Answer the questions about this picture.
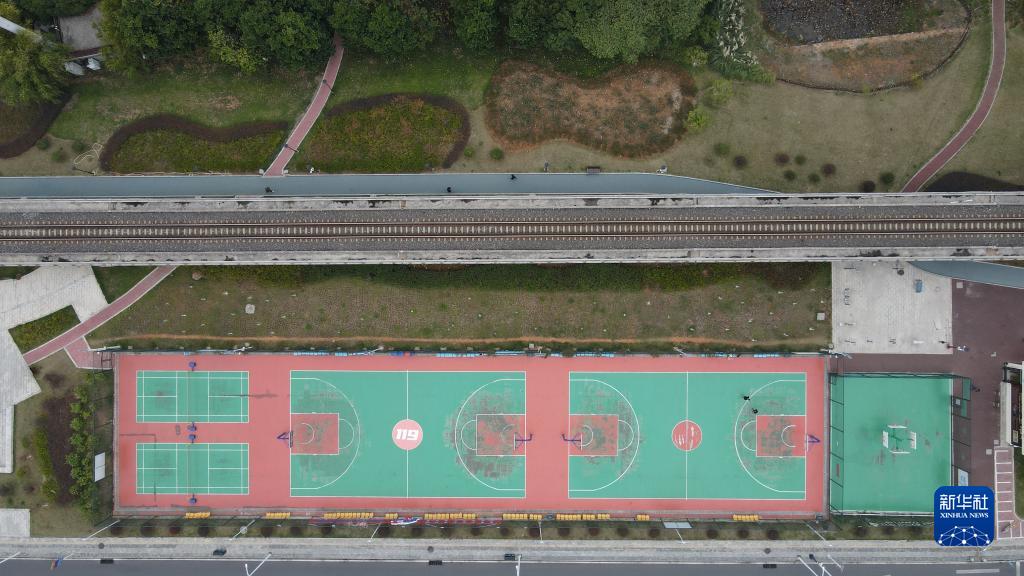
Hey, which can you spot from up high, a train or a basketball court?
basketball court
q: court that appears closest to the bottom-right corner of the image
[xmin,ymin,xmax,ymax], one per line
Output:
[832,372,953,516]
